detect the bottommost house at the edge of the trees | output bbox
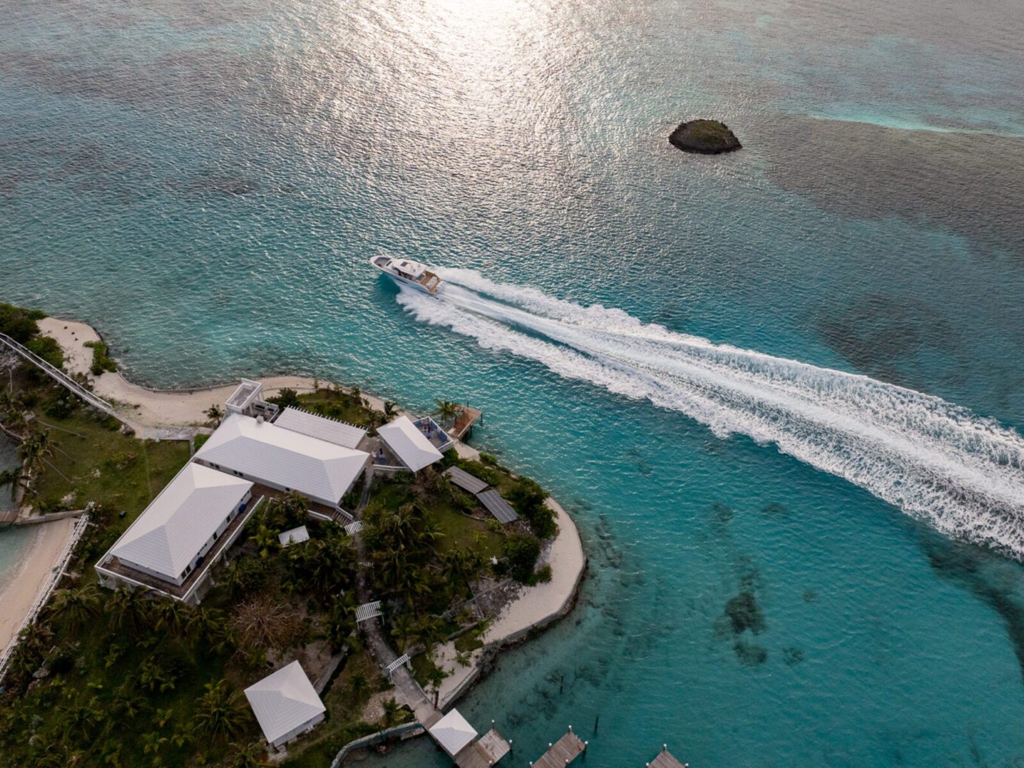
[244,659,325,766]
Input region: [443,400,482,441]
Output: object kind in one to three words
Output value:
pier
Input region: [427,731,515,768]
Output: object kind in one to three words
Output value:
pier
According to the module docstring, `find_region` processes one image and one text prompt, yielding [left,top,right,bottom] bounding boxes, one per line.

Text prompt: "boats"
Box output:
[371,255,443,296]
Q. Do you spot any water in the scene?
Yes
